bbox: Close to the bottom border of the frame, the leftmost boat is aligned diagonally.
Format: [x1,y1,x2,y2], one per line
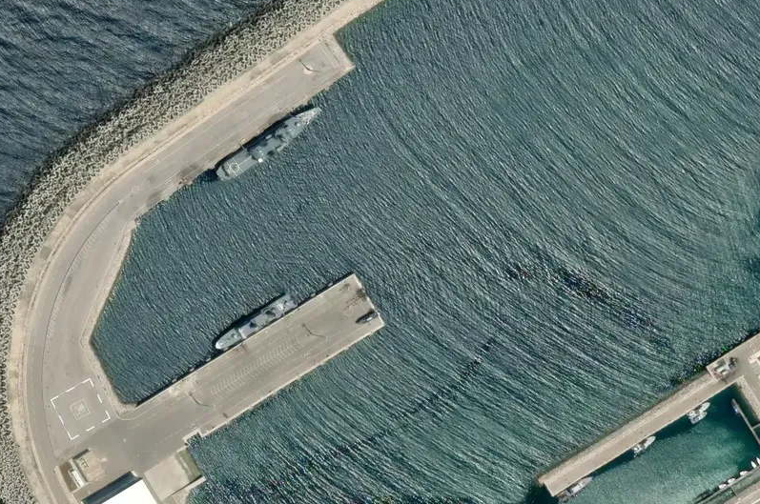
[555,478,592,503]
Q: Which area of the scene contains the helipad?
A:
bottom left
